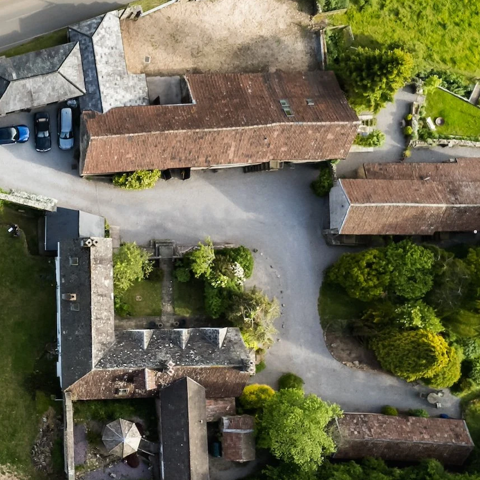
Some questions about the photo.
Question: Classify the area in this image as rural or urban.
urban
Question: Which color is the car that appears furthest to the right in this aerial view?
blue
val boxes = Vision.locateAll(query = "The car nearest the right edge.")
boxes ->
[56,107,77,150]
